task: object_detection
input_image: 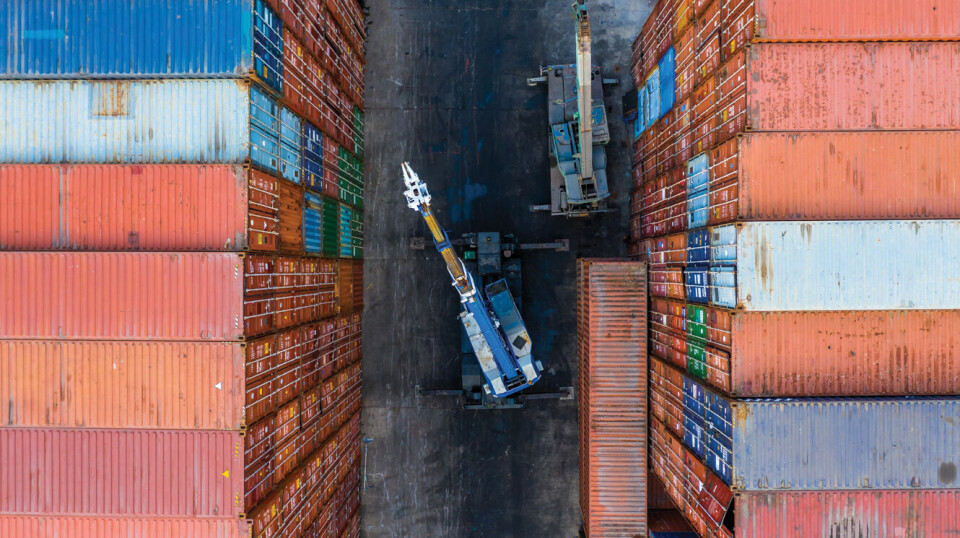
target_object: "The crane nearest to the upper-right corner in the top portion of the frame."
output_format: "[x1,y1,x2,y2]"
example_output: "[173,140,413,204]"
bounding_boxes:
[523,0,622,222]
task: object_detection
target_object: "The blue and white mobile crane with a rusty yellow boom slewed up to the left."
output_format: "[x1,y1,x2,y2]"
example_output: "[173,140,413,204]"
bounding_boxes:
[397,165,574,409]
